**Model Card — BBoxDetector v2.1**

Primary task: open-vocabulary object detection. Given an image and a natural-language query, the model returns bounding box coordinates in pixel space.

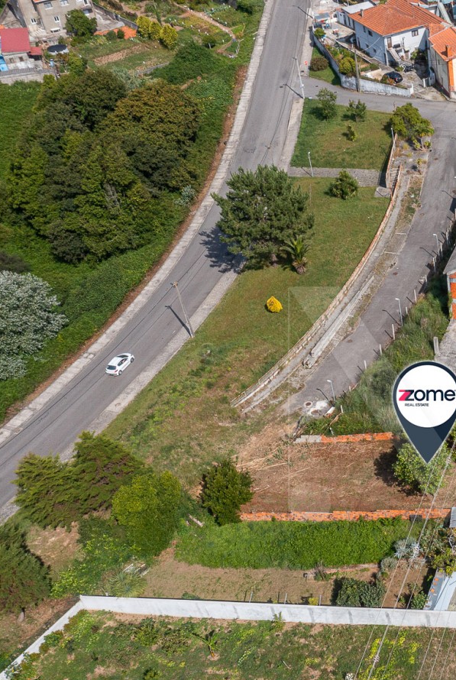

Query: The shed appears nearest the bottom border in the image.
[424,570,445,609]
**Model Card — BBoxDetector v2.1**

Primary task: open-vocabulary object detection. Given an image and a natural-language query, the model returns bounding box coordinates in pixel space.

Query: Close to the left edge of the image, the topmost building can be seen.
[14,0,97,33]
